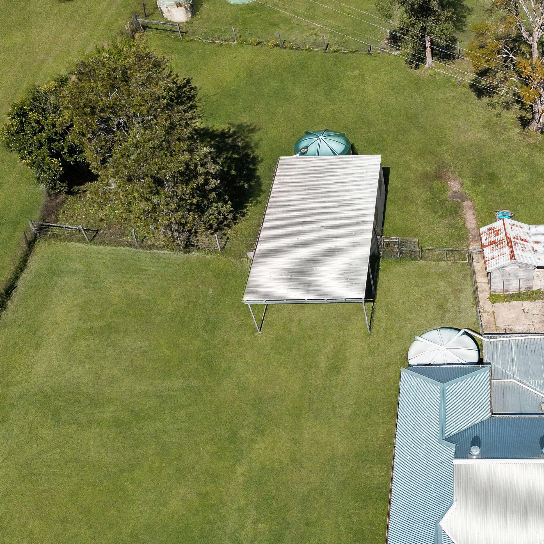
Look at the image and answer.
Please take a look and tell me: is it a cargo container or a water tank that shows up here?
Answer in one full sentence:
I can see a water tank in this picture.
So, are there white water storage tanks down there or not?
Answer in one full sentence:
Yes, the photo shows a white water storage tank.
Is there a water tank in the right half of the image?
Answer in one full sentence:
Yes, in the right half of the image there is a water tank.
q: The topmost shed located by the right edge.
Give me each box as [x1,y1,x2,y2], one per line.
[479,216,544,293]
